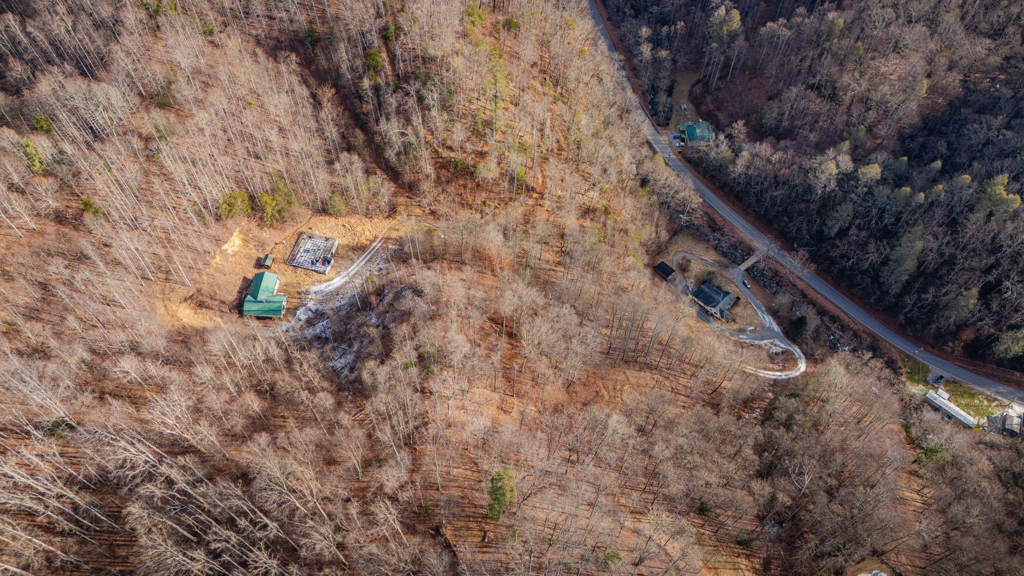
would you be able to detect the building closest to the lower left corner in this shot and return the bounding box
[243,271,287,323]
